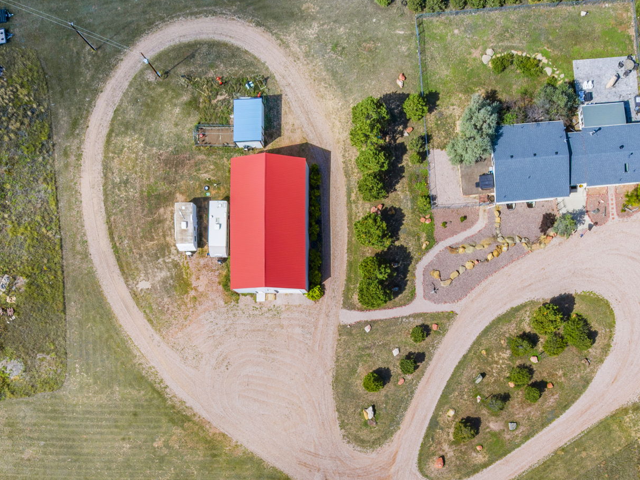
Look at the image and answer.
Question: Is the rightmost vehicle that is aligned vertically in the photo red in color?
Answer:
No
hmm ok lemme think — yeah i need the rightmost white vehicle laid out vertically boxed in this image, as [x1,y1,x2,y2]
[209,201,230,269]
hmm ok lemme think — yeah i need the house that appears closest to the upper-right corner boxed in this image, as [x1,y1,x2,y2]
[490,102,640,207]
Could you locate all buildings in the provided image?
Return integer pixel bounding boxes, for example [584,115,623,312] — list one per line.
[230,152,308,294]
[490,102,640,207]
[233,99,265,148]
